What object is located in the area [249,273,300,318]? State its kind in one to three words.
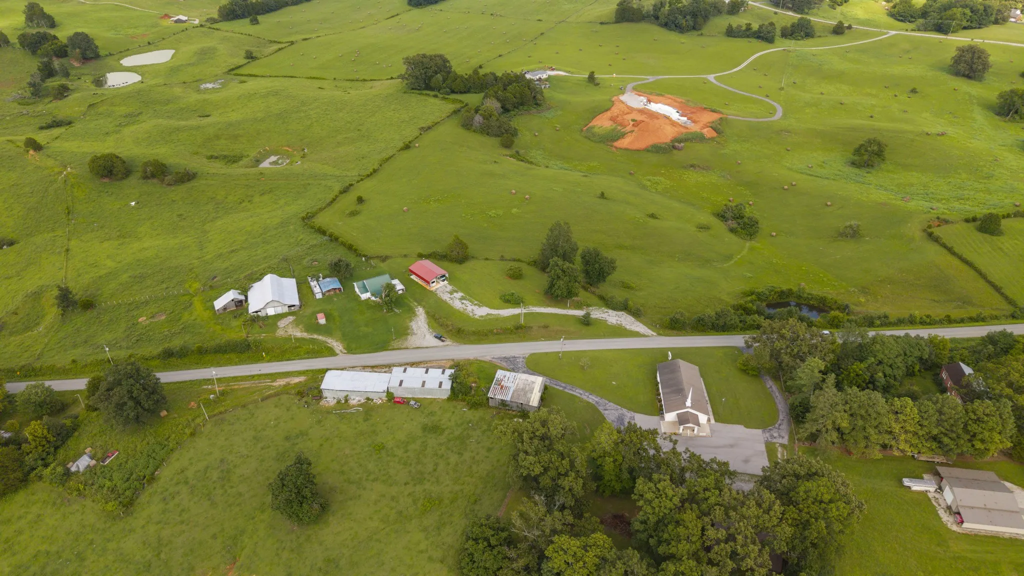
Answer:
barn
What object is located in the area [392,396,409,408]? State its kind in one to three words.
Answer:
vehicle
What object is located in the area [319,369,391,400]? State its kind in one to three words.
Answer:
shed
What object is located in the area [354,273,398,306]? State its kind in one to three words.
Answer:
house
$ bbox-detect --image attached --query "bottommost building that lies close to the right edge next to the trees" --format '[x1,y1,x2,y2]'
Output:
[935,466,1024,536]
